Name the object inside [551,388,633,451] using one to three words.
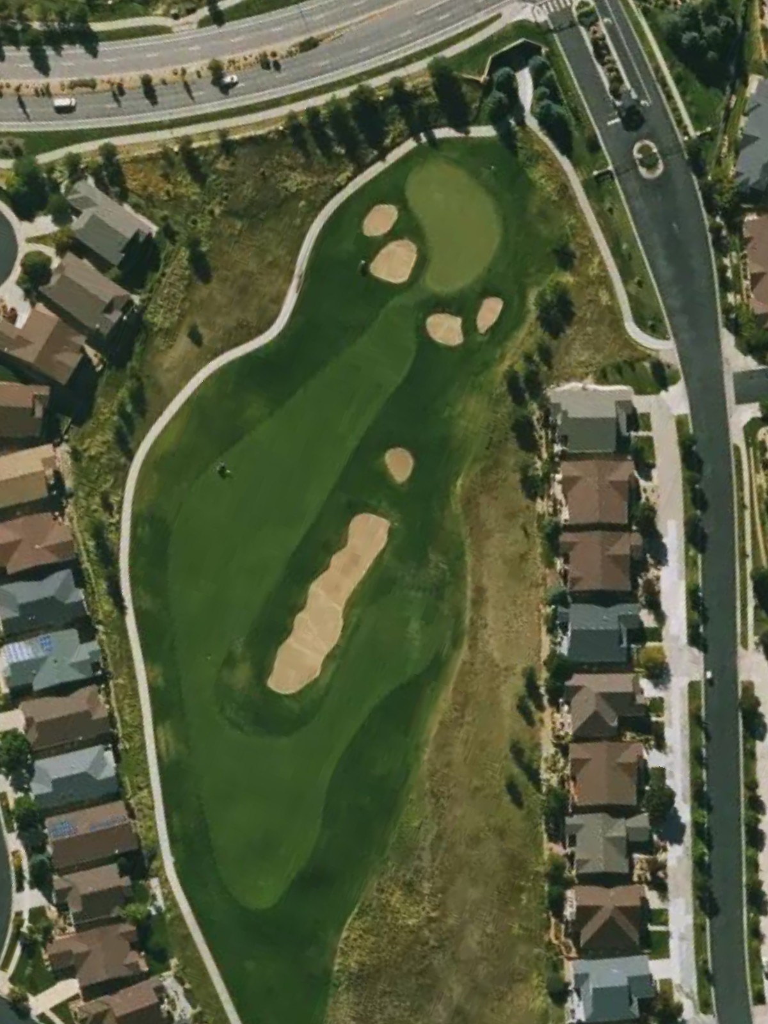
house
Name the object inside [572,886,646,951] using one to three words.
house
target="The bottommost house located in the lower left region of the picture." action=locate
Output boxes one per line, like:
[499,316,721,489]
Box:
[75,977,168,1024]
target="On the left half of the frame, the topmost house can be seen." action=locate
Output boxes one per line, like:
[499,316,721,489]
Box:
[67,177,159,260]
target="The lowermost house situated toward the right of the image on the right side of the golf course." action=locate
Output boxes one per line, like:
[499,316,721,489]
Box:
[574,958,654,1024]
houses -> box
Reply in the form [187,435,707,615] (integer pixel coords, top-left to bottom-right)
[28,747,121,811]
[567,674,648,737]
[0,303,102,379]
[50,863,132,927]
[561,531,643,591]
[45,256,141,335]
[574,958,654,1024]
[0,382,49,436]
[44,801,137,870]
[0,630,103,692]
[67,177,159,260]
[562,458,635,523]
[570,742,645,806]
[0,570,86,638]
[0,443,56,508]
[75,977,168,1024]
[23,689,110,752]
[551,388,633,451]
[0,510,76,575]
[572,886,646,951]
[558,603,642,663]
[566,813,651,875]
[45,919,146,984]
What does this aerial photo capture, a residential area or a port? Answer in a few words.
residential area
